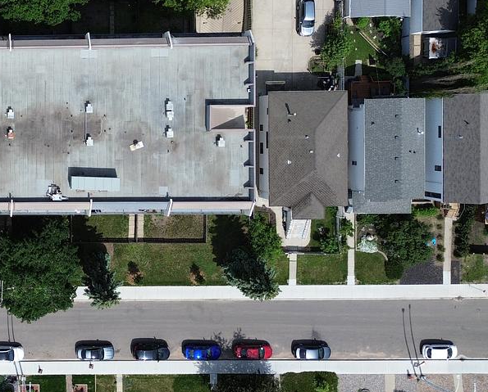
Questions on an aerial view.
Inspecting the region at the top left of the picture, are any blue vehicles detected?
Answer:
No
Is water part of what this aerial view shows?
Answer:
No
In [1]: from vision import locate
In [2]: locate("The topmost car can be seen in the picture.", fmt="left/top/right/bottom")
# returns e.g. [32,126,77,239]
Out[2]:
[298,0,320,35]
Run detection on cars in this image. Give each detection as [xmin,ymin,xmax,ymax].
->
[422,345,459,363]
[298,0,320,35]
[133,345,171,364]
[0,346,24,364]
[235,345,273,363]
[78,345,115,364]
[184,345,222,363]
[293,345,332,363]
